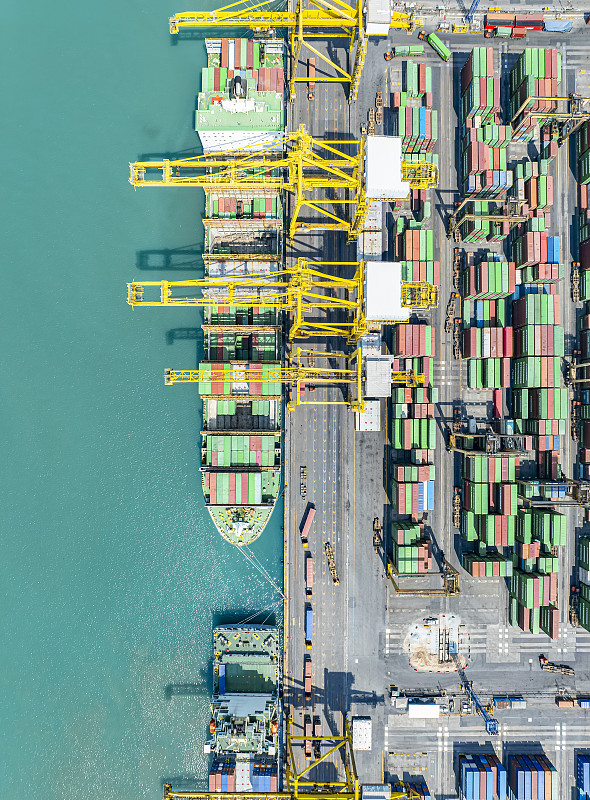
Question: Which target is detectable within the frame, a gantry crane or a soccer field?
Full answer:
This aerial view contains a gantry crane.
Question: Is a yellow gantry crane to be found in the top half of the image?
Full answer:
Yes, in the top half of the image there is a yellow gantry crane.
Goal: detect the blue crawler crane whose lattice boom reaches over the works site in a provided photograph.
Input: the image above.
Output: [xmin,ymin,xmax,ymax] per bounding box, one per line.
[452,649,502,746]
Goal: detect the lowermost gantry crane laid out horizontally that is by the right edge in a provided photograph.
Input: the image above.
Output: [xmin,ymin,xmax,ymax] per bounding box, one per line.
[511,475,590,506]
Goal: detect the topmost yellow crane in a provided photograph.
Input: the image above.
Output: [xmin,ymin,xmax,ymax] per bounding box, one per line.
[167,0,424,110]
